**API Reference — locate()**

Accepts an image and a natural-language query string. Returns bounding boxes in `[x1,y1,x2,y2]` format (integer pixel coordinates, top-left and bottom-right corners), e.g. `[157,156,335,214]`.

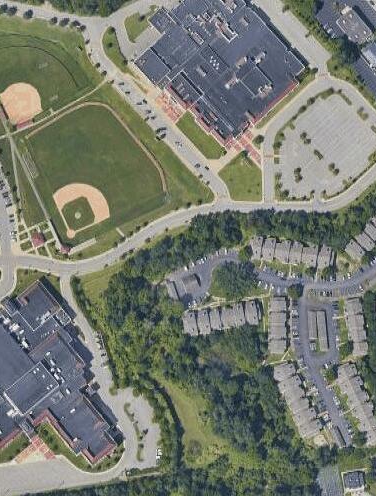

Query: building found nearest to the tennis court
[344,472,363,490]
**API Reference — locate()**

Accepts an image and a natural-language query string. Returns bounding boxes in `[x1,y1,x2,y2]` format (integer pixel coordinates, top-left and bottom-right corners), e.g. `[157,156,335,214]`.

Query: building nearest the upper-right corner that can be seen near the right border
[337,6,373,43]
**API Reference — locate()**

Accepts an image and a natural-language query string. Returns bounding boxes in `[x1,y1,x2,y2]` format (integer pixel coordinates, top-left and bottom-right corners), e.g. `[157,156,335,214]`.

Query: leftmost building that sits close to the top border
[135,0,305,137]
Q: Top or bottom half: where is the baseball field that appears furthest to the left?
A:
top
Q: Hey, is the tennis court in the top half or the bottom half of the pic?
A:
bottom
